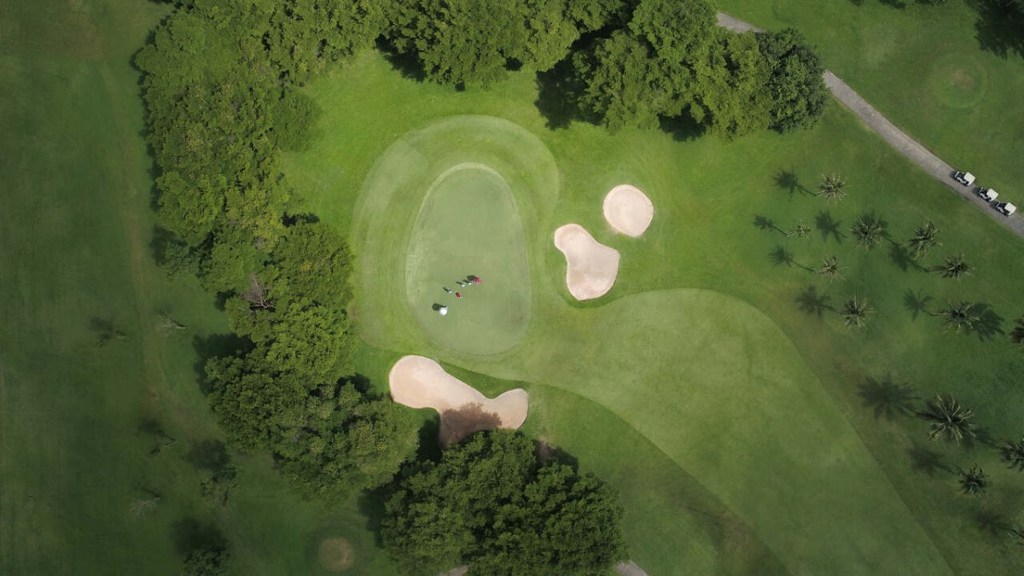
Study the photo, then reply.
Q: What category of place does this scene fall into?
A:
golf course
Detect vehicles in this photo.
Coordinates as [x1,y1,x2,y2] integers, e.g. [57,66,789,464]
[952,170,977,188]
[976,187,1001,204]
[994,200,1019,218]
